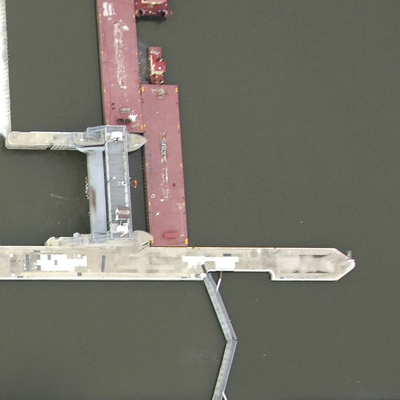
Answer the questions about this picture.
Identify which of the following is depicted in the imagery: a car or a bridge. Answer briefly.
bridge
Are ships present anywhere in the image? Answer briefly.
Yes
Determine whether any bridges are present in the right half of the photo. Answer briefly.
No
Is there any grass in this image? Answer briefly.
No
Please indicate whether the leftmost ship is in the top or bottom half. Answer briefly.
top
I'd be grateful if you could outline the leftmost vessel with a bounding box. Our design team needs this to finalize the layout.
[95,0,146,134]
